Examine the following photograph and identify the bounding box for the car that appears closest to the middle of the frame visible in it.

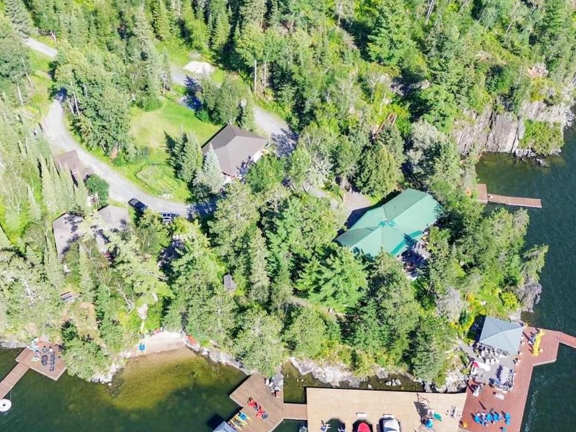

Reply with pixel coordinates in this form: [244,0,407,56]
[157,207,181,219]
